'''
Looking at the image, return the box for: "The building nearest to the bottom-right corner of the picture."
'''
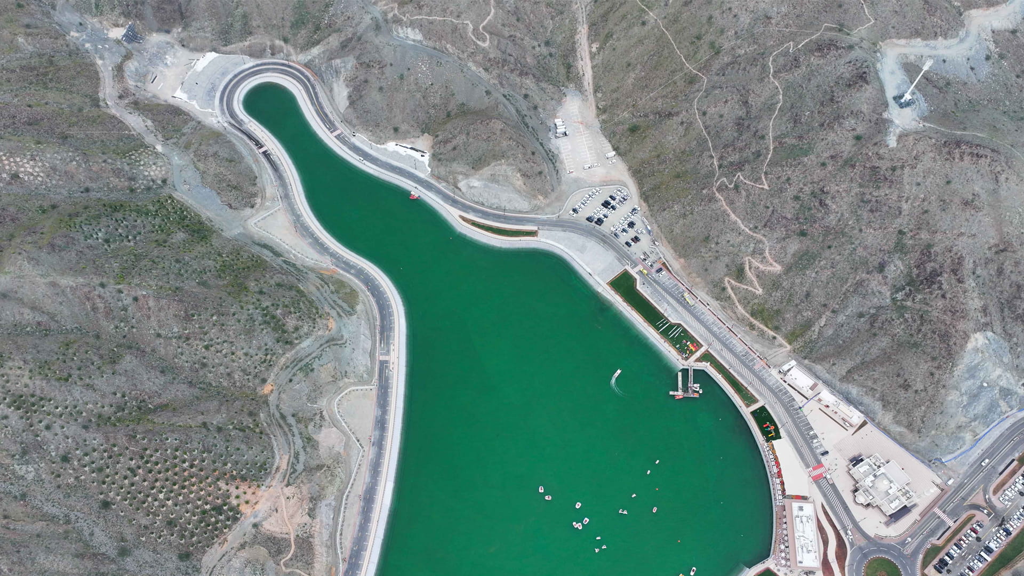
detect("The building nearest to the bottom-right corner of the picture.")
[847,453,917,525]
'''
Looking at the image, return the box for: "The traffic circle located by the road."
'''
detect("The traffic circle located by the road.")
[847,533,917,576]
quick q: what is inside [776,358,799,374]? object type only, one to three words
vehicle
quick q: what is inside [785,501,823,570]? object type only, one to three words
building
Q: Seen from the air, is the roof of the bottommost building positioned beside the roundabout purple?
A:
No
